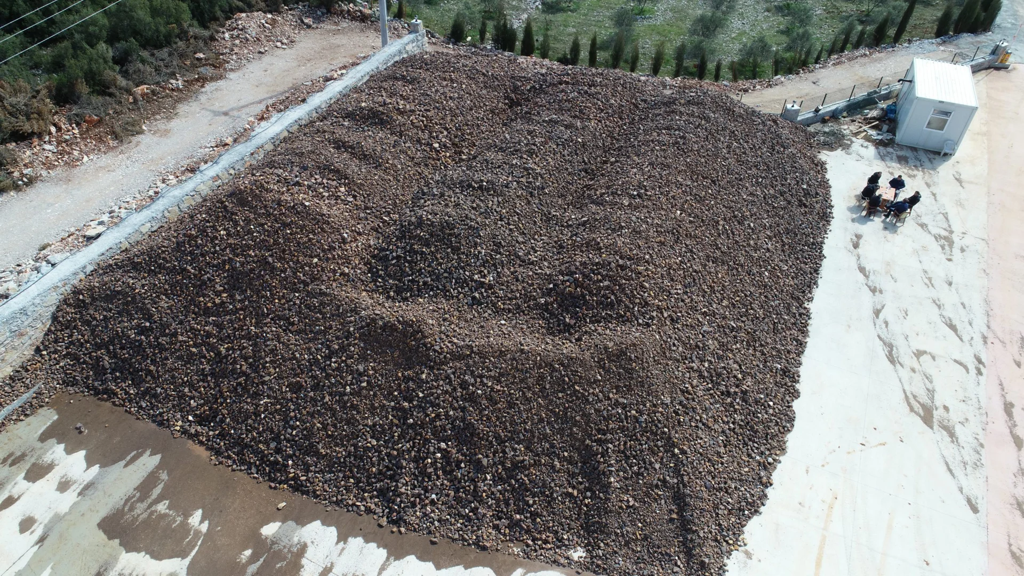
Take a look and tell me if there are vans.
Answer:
No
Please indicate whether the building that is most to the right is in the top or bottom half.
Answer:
top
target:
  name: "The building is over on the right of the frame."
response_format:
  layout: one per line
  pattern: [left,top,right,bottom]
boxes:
[896,57,978,154]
